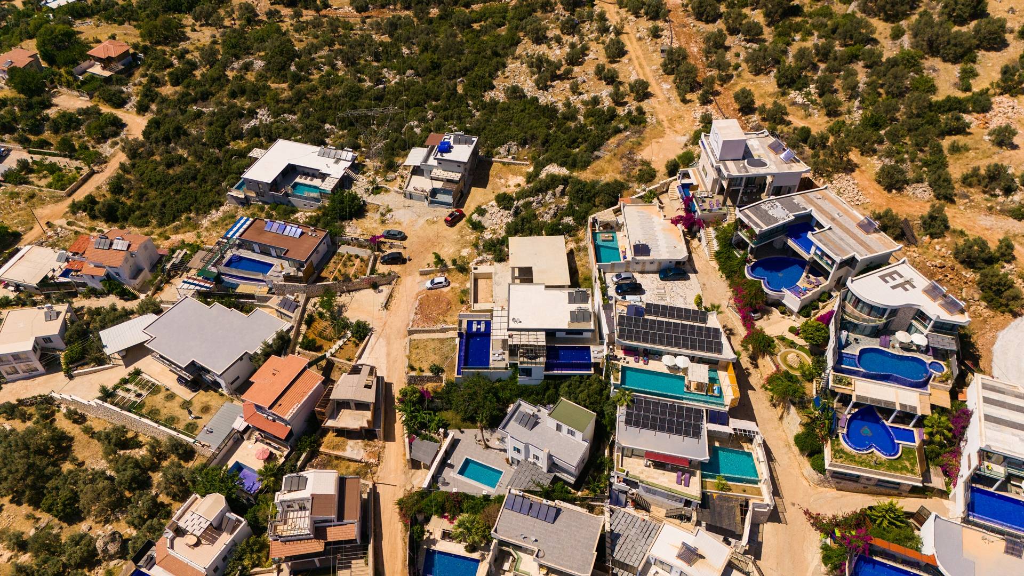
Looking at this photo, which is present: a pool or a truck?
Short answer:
pool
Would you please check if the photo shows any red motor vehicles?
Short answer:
Yes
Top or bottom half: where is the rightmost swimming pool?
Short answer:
bottom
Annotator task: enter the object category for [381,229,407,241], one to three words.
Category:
vehicle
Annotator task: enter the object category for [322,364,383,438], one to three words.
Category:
house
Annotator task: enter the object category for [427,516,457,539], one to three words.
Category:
gazebo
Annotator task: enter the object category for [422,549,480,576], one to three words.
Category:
swimming pool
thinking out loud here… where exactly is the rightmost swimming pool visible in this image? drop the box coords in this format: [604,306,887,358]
[967,485,1024,529]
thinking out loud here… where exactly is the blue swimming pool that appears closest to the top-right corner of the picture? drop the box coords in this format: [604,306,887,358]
[789,224,819,254]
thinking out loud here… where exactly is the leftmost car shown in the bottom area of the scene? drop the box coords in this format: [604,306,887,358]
[175,378,203,395]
